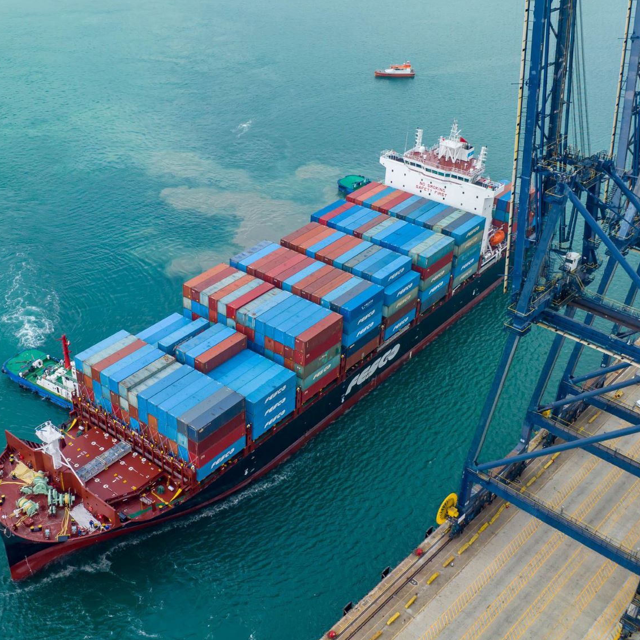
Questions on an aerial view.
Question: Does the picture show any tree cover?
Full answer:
No, the picture contains no tree cover.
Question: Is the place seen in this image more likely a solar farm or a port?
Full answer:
The area seen from above is a port.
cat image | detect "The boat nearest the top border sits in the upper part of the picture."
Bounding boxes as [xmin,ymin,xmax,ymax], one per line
[375,61,413,79]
